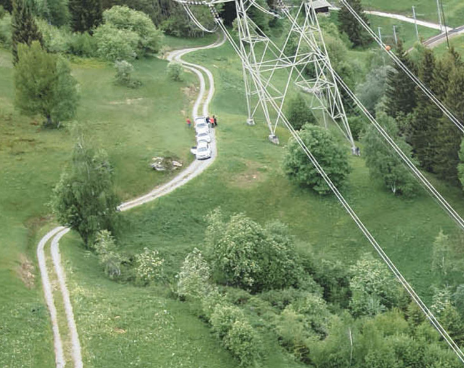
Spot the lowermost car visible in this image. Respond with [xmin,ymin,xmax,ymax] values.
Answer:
[188,139,210,160]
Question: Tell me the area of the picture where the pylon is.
top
